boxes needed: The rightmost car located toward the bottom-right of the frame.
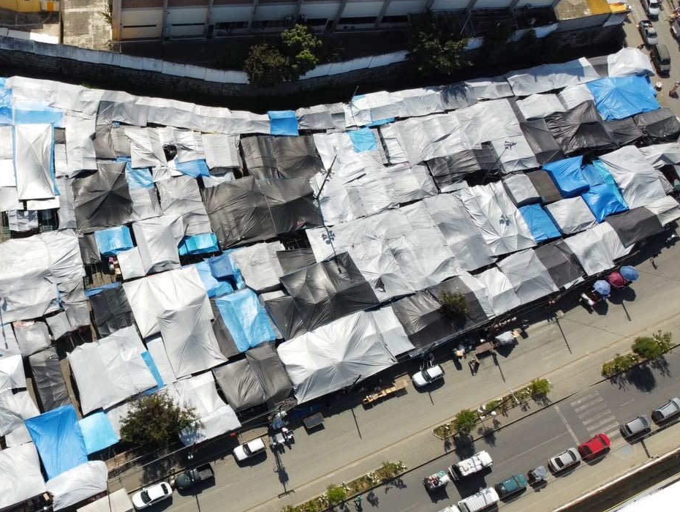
[646,398,680,424]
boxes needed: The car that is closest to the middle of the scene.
[410,363,446,389]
